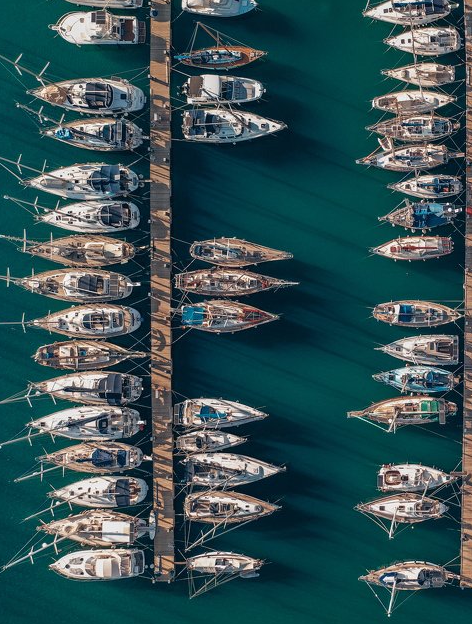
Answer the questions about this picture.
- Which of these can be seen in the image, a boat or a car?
boat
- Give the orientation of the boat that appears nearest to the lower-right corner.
from left to right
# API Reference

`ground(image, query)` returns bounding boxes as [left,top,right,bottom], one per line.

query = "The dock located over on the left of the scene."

[147,0,178,582]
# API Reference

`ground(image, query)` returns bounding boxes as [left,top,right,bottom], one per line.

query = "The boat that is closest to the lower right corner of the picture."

[352,561,461,616]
